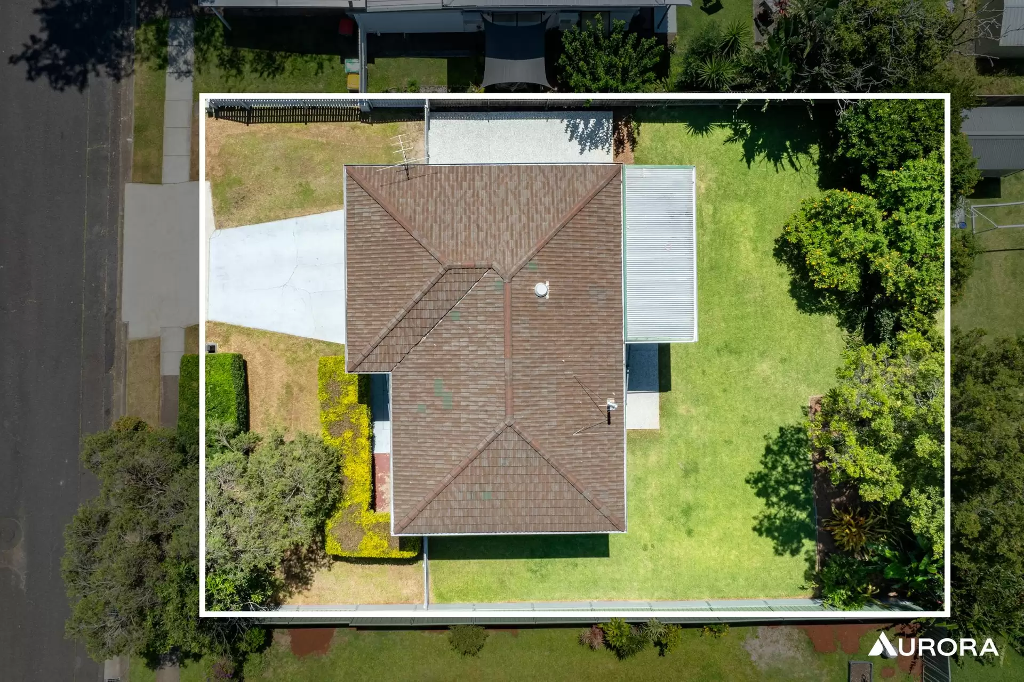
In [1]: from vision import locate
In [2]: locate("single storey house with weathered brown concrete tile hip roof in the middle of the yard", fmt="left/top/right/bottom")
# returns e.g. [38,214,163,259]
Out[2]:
[342,160,628,537]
